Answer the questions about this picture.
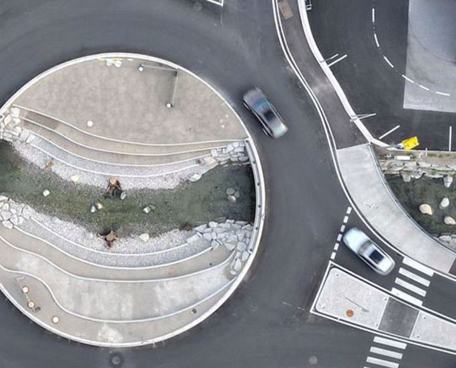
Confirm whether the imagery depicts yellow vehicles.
Yes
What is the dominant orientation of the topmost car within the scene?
diagonally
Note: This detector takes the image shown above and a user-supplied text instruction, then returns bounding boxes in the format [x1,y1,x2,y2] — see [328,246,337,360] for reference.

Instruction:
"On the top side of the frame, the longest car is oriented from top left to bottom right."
[244,89,286,137]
